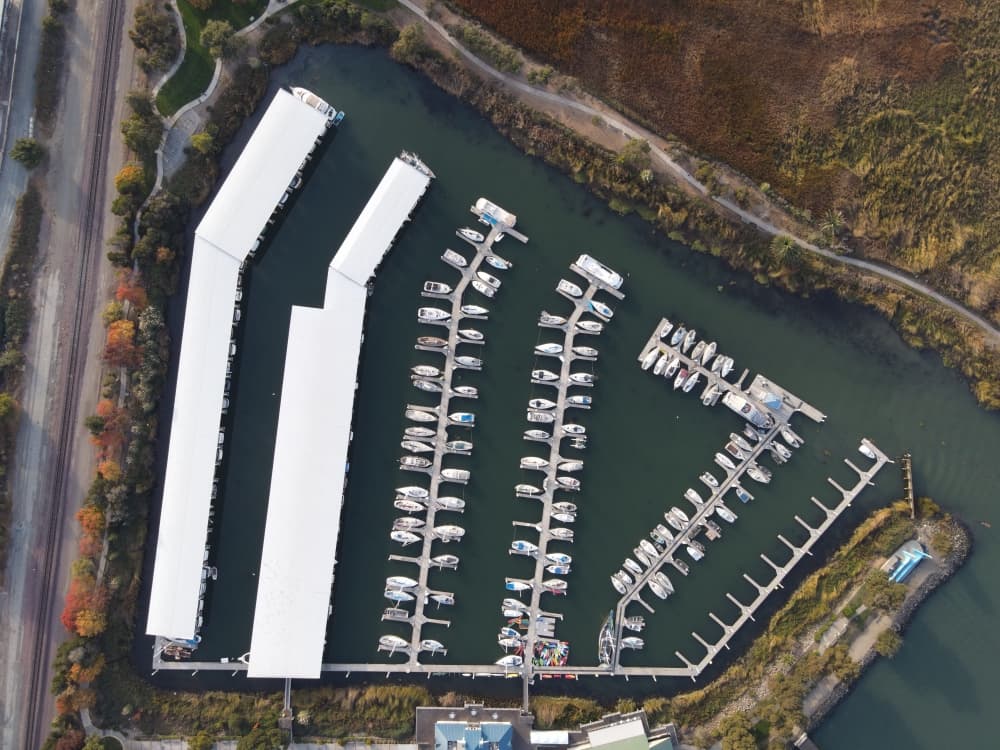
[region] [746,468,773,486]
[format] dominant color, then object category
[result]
white boat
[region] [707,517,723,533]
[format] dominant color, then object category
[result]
gray boat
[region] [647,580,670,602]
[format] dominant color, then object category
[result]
white boat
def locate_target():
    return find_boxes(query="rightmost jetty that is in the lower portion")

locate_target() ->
[897,453,918,505]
